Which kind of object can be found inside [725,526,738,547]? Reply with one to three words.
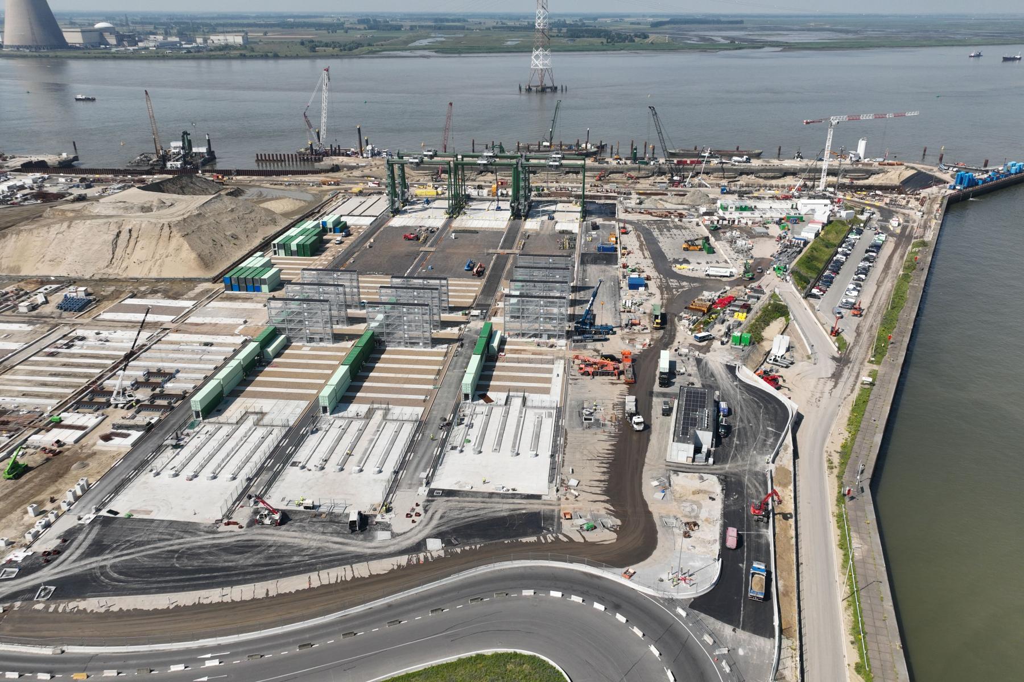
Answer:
vehicle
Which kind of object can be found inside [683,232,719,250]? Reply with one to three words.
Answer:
work vehicle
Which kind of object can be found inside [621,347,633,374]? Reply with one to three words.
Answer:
vehicle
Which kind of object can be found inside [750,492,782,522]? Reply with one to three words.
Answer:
work vehicle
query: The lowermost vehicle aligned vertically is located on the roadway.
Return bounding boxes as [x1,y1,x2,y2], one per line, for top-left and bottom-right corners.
[749,557,769,599]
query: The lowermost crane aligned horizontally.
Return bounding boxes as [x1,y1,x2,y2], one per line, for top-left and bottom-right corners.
[568,351,621,376]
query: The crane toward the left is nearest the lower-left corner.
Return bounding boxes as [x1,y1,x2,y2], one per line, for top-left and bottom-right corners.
[103,307,165,405]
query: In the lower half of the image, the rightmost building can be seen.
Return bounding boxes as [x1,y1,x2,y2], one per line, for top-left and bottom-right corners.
[665,386,722,460]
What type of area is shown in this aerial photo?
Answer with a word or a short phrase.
port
